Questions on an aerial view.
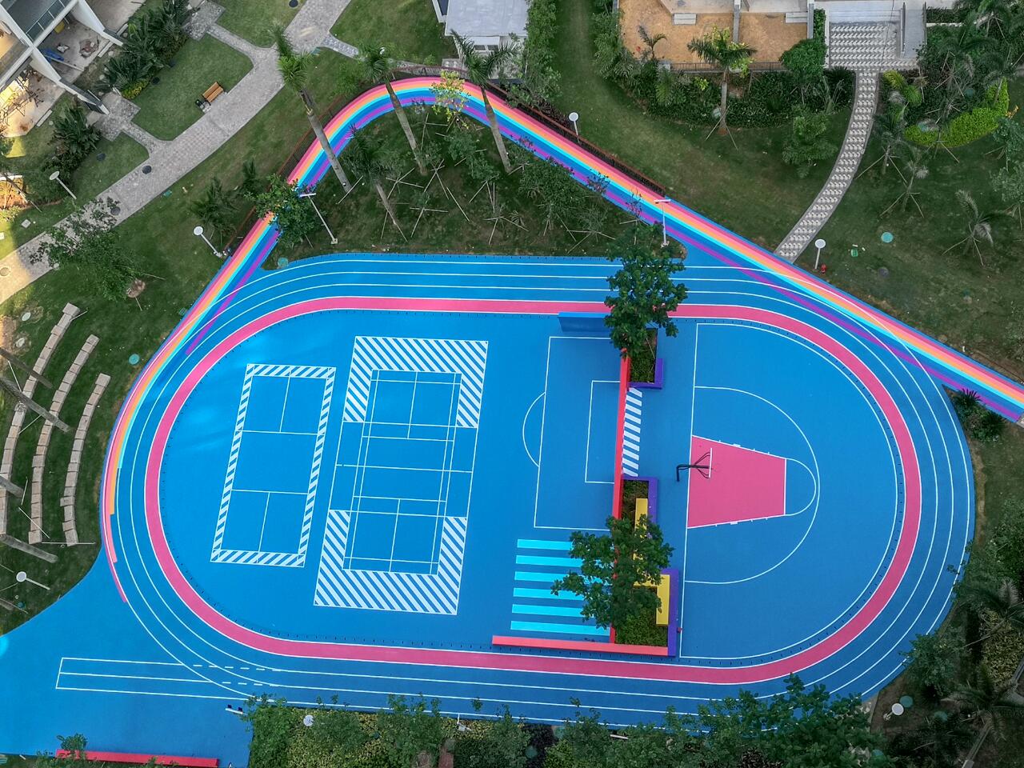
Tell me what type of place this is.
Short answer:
sports ground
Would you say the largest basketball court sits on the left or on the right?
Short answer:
right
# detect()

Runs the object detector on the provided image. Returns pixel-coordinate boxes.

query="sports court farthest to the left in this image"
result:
[210,364,335,567]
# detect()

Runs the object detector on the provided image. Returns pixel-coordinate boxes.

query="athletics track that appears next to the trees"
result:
[101,252,973,736]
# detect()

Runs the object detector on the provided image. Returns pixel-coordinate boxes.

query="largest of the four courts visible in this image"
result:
[681,324,898,664]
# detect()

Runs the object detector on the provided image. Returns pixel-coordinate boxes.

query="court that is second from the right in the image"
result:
[522,336,621,531]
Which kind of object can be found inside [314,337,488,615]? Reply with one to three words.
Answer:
sports court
